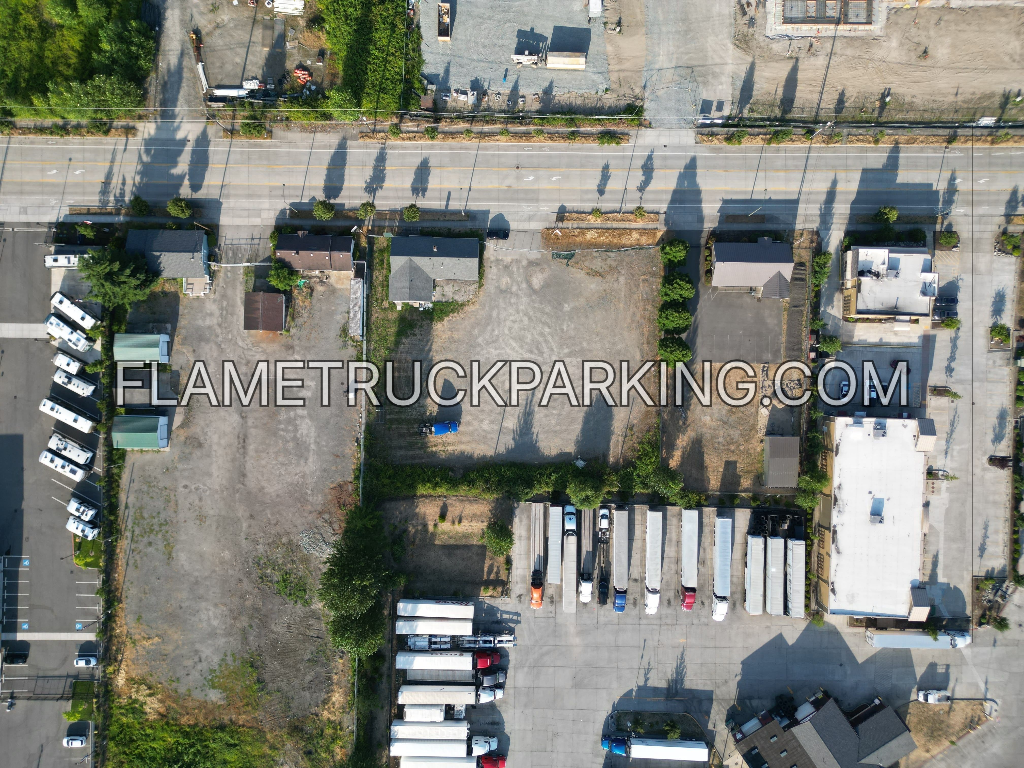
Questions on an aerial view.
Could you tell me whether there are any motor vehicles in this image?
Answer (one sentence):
Yes, a motor vehicle can be made out from above.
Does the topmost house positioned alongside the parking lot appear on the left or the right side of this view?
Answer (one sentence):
The topmost house positioned alongside the parking lot sits on the left side.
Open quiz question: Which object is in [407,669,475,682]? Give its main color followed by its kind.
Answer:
gray vehicle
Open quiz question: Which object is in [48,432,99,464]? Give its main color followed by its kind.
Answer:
white camper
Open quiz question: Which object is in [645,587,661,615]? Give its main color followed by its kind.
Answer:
white vehicle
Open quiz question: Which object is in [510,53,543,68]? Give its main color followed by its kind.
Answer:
white work vehicle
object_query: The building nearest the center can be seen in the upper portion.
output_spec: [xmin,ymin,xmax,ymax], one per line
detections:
[389,235,479,312]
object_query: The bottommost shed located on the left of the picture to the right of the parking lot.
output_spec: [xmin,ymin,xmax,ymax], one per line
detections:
[109,415,173,448]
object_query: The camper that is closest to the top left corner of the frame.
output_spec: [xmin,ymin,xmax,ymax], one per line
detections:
[47,256,101,270]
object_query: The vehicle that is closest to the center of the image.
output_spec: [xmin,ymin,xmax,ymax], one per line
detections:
[419,422,460,436]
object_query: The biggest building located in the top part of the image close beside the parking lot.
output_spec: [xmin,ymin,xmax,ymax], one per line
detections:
[126,229,209,298]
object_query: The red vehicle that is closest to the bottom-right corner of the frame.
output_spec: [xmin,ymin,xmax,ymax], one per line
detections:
[681,585,696,612]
